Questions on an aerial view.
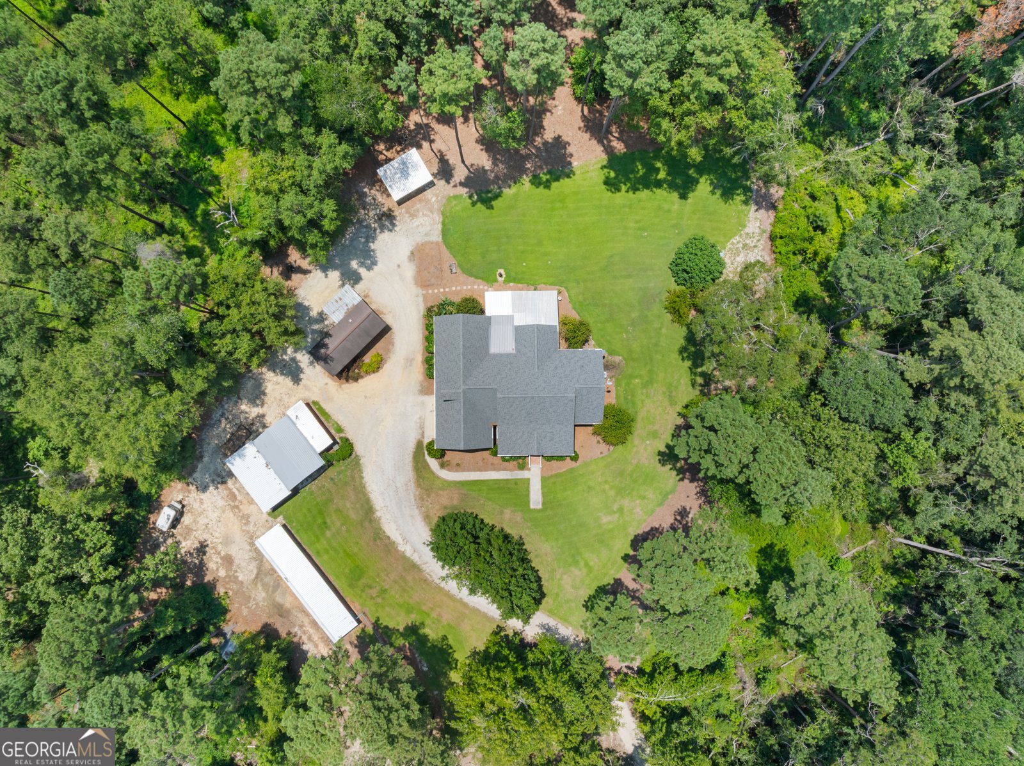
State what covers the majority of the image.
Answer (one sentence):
For the most part, this view shows trees.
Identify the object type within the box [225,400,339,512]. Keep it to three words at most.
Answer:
building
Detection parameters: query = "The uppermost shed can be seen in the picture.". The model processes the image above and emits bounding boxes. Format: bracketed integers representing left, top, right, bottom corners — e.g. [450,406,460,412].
[377,148,433,205]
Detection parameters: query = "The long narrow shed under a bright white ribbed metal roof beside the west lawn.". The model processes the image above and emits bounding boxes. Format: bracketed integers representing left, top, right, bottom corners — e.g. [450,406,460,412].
[255,522,360,645]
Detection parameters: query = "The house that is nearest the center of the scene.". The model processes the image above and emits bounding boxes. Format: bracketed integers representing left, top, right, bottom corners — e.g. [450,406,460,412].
[433,291,604,466]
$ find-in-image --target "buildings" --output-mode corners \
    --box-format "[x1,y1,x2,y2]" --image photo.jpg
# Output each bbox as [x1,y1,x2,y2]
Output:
[433,291,604,466]
[377,148,433,205]
[225,400,339,512]
[255,522,360,645]
[309,285,388,375]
